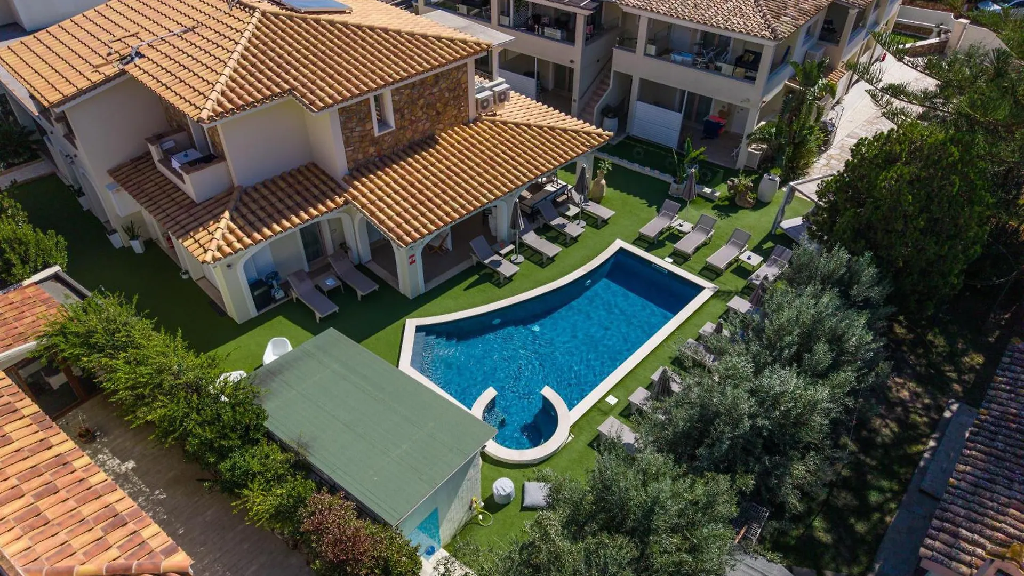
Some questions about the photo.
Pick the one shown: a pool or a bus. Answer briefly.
pool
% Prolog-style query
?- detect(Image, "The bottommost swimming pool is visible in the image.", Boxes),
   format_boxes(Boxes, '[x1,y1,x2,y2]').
[399,239,718,461]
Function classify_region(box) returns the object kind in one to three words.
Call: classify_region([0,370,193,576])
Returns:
house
